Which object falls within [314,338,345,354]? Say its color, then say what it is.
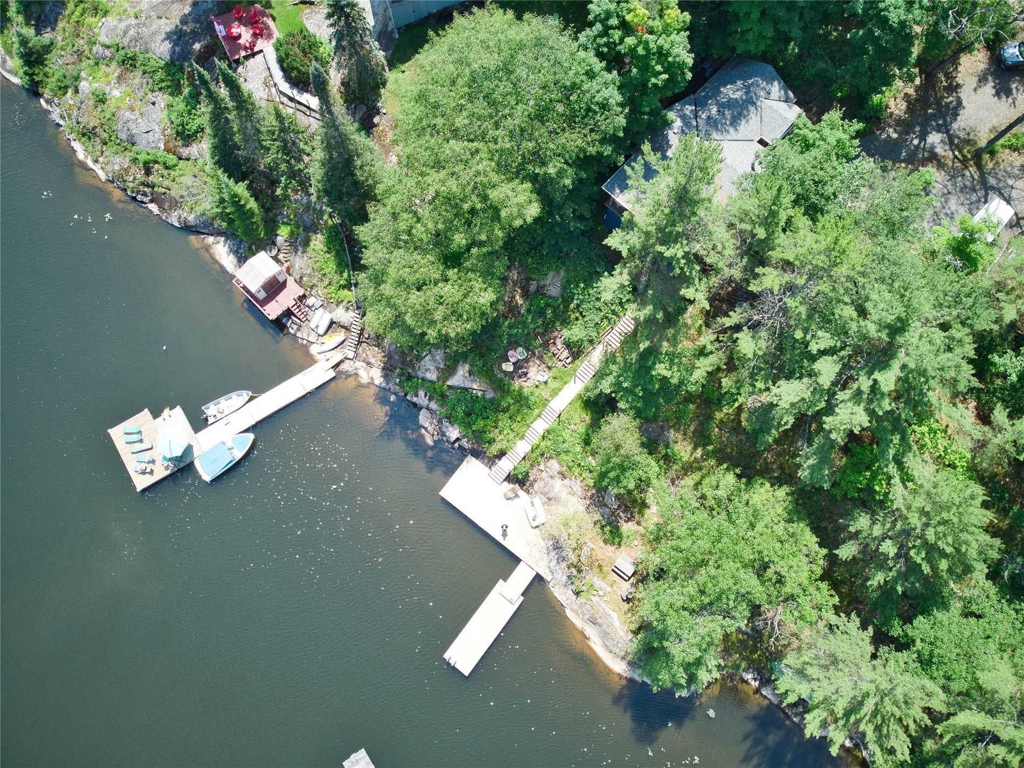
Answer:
white boat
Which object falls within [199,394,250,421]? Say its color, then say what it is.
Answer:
white boat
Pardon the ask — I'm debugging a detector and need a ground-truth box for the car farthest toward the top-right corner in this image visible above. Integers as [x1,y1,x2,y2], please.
[1003,40,1024,68]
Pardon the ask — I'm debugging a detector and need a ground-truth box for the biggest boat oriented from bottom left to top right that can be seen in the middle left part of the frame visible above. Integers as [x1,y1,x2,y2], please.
[197,437,253,481]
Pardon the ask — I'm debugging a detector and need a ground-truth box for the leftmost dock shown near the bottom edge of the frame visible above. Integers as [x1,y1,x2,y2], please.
[343,748,375,768]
